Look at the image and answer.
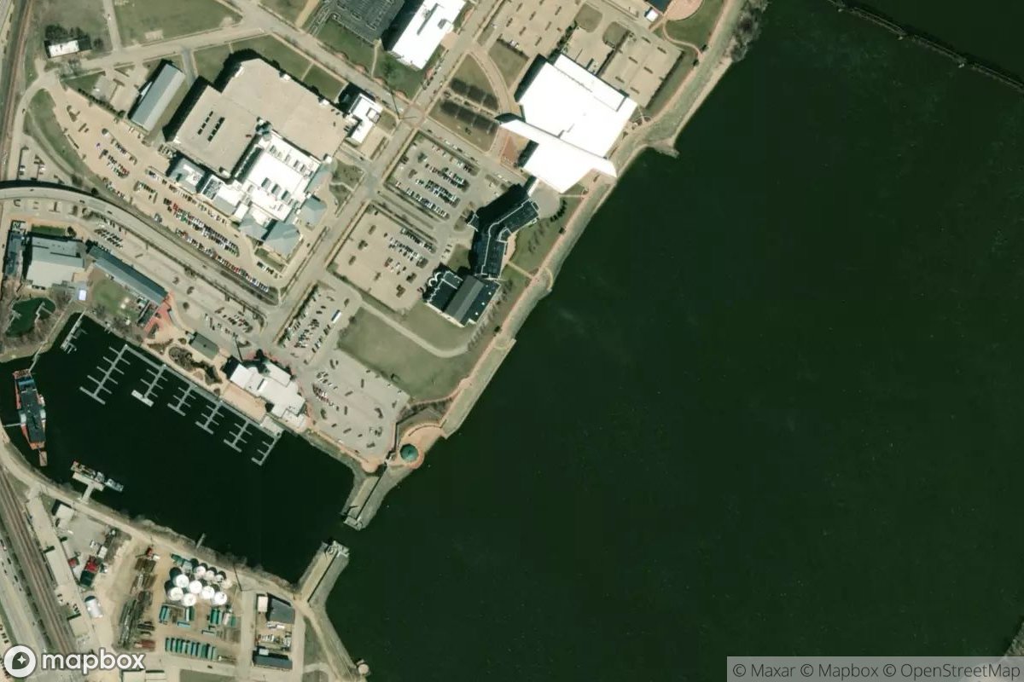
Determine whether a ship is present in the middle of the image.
No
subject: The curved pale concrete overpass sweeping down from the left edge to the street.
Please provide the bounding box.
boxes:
[0,187,271,319]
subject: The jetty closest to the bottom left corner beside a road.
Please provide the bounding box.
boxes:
[72,472,104,505]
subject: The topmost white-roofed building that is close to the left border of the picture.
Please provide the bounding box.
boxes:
[47,40,80,57]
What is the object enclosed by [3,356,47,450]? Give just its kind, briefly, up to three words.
ship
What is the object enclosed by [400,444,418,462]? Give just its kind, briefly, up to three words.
gazebo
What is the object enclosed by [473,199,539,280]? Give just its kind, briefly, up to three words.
building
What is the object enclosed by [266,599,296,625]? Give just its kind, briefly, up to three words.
building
